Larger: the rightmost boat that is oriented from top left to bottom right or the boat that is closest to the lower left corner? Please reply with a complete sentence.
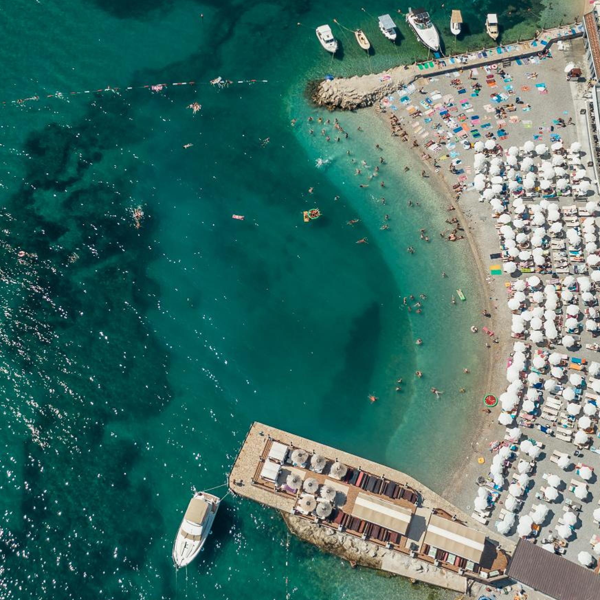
The boat that is closest to the lower left corner takes up more space than the rightmost boat that is oriented from top left to bottom right.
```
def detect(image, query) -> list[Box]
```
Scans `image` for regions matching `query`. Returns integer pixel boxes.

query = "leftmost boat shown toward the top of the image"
[316,20,337,55]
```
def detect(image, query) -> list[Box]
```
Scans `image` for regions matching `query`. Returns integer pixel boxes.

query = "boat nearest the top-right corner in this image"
[485,8,500,40]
